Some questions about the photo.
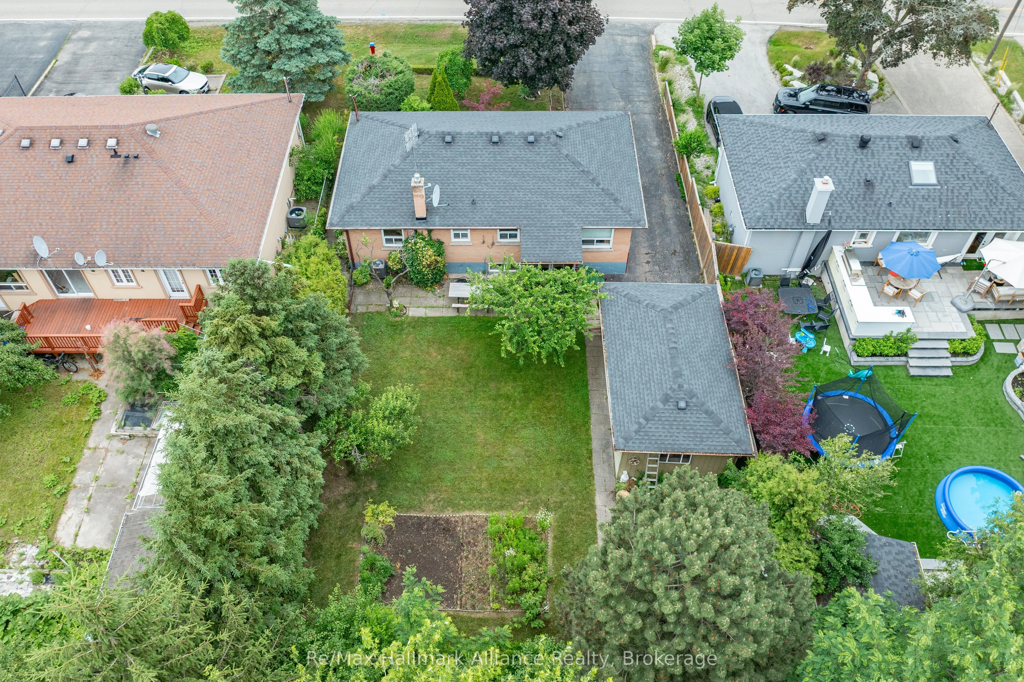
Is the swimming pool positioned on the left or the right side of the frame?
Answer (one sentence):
The swimming pool is on the right side of the image.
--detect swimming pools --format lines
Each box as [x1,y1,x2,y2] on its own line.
[931,465,1024,544]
